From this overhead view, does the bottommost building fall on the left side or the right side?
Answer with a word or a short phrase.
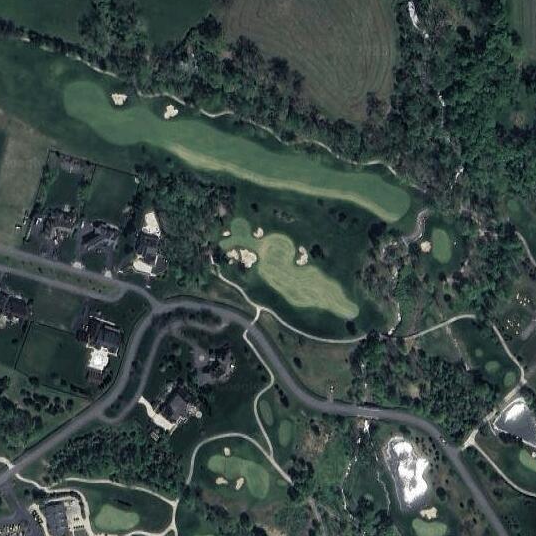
left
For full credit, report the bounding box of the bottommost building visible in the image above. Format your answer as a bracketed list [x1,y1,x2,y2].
[42,502,67,536]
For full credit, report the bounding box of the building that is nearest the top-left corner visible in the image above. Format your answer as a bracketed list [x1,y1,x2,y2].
[40,208,76,237]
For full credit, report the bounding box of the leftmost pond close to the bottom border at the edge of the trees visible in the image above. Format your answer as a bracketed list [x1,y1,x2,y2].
[385,434,429,511]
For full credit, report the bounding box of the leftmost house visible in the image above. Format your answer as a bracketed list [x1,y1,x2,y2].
[0,292,29,318]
